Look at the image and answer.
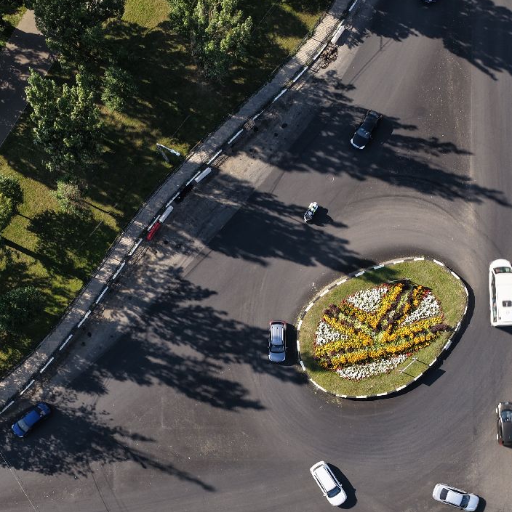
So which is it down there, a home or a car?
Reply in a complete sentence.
There is a car in the scene.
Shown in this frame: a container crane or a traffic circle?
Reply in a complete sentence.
Looking from above, you can make out a traffic circle.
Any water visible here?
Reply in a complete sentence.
No, there's no water in this view.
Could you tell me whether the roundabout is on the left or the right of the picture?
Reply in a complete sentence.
It is on the right.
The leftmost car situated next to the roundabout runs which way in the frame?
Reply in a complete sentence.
The leftmost car situated next to the roundabout is oriented up and down.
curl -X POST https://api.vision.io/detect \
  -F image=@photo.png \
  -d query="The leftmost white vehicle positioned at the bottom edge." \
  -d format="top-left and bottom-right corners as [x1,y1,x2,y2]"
[311,460,346,509]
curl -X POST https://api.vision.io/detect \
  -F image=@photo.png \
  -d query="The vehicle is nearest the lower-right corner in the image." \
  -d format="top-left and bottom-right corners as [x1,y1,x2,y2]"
[431,483,480,512]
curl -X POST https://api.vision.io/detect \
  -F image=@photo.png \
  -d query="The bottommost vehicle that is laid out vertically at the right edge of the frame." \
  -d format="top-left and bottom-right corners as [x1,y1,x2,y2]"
[494,402,512,446]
